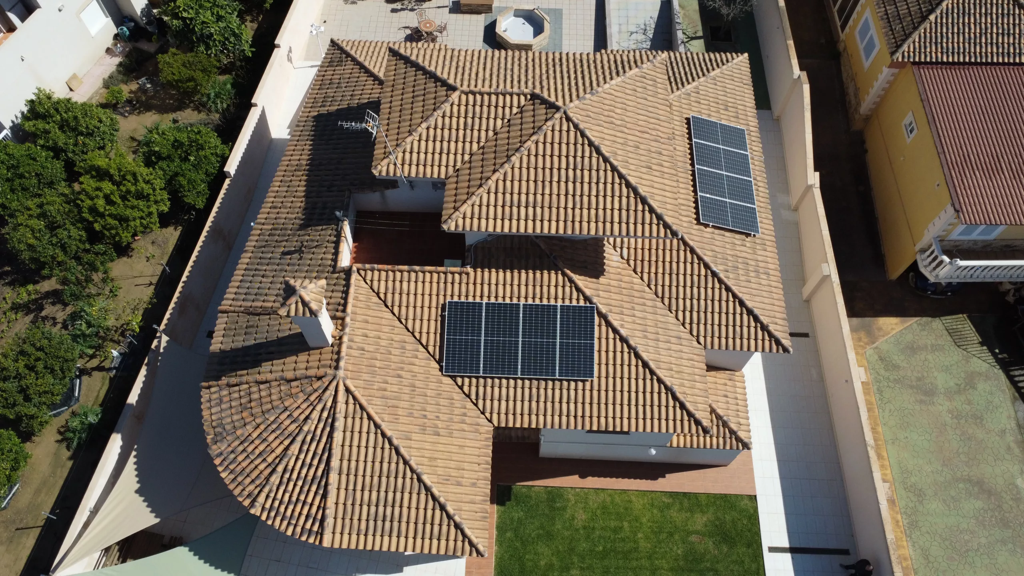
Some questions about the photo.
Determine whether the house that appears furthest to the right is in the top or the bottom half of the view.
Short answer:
top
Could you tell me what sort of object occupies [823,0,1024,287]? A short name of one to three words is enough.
house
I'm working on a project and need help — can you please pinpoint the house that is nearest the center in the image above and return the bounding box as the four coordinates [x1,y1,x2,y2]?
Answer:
[194,38,796,561]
